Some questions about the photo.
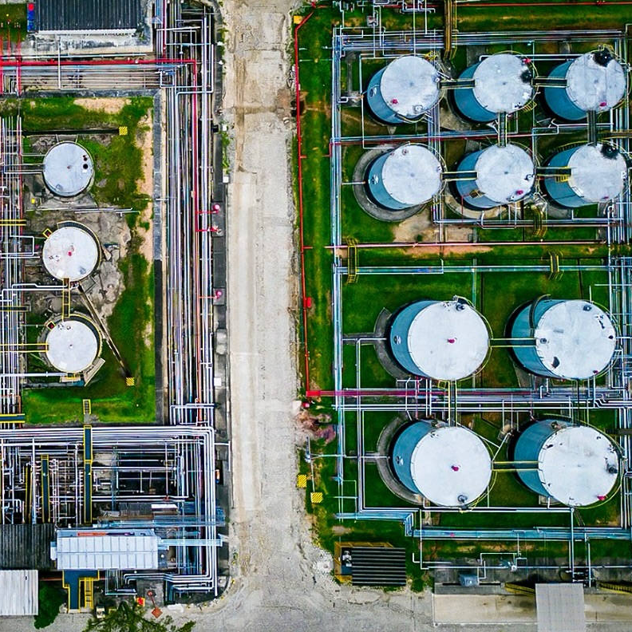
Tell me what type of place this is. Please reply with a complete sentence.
It's an industrial area.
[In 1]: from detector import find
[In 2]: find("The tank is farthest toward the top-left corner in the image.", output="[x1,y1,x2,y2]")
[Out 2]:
[39,139,99,203]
